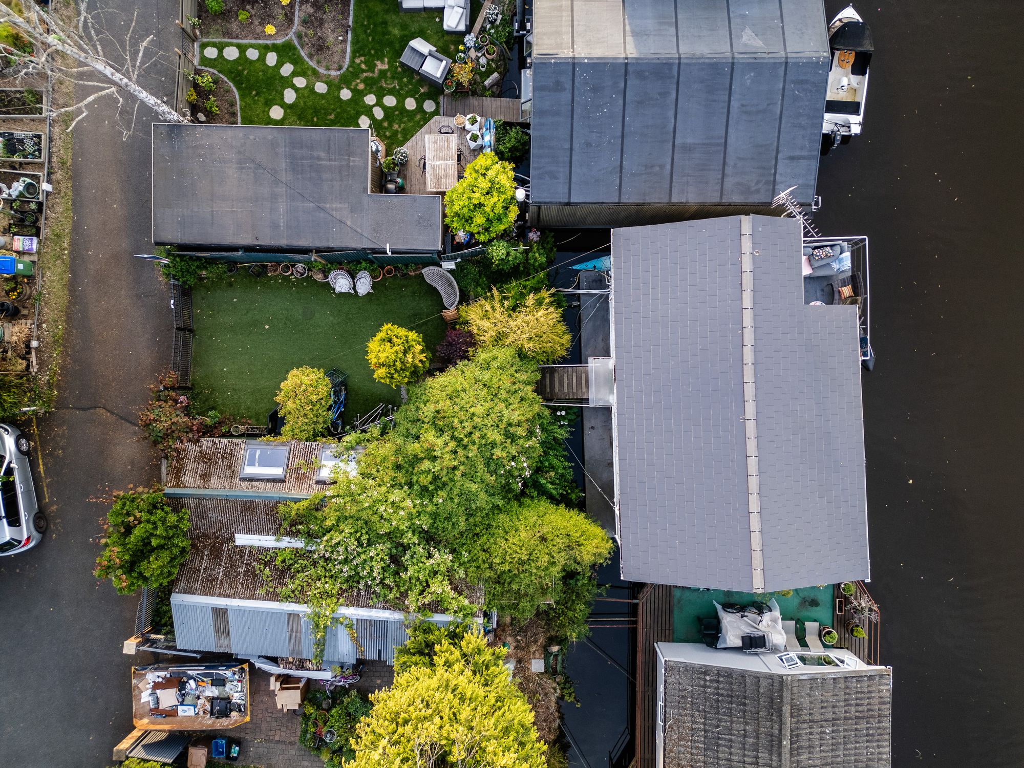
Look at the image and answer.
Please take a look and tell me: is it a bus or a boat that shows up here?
boat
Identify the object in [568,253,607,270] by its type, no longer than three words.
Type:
boat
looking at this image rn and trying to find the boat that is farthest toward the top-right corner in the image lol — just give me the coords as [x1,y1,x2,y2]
[823,2,876,149]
